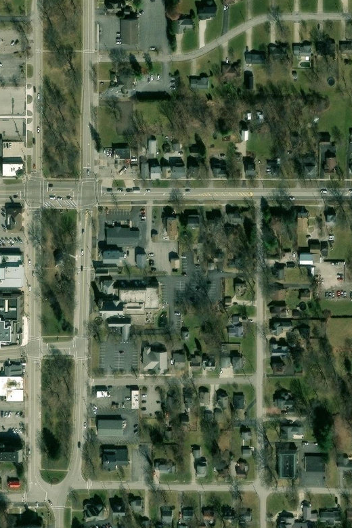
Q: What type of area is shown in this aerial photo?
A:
residential area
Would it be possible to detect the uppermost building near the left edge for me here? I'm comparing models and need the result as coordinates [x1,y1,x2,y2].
[3,158,23,178]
